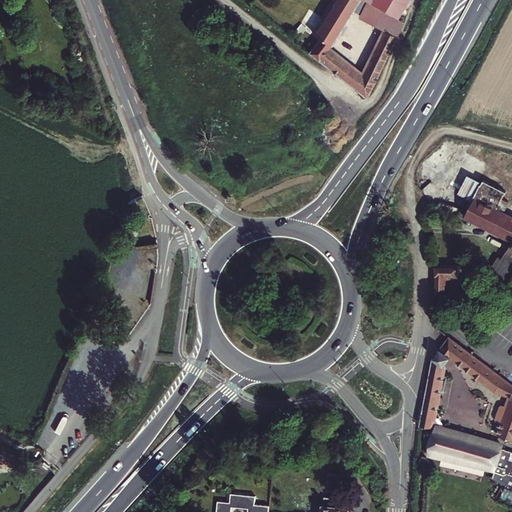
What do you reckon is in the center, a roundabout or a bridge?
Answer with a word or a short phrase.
roundabout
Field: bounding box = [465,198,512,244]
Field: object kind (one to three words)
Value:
house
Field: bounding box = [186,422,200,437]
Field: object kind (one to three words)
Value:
vehicle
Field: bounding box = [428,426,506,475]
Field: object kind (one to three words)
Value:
building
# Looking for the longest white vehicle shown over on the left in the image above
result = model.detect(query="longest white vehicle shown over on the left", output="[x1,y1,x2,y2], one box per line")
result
[52,414,70,437]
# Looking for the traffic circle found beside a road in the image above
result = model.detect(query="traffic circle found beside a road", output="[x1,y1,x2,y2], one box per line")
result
[196,217,361,383]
